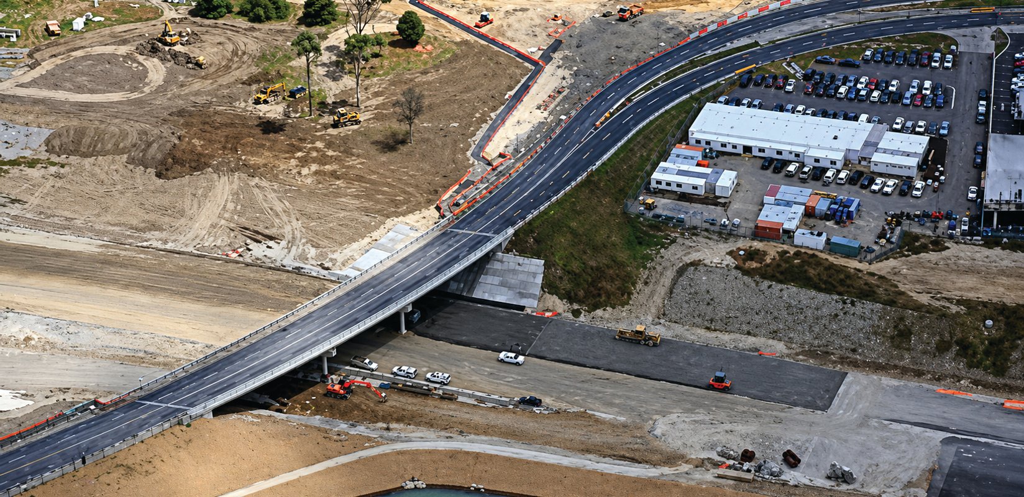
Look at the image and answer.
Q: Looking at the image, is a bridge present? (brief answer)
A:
Yes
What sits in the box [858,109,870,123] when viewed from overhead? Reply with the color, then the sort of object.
white vehicle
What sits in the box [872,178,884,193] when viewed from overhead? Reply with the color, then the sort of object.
white vehicle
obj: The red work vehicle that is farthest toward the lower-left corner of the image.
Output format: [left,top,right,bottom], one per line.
[325,378,377,406]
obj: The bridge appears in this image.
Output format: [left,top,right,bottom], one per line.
[130,221,527,422]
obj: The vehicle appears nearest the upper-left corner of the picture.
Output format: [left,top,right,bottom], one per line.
[45,19,59,37]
